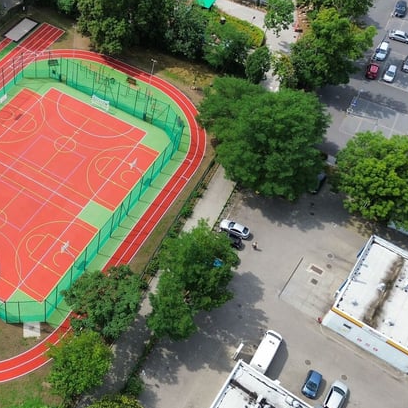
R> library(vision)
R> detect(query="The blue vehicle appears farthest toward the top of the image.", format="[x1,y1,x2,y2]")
[395,0,407,14]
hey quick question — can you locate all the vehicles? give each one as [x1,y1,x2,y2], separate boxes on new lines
[401,55,408,71]
[219,221,251,241]
[248,330,281,373]
[376,43,390,58]
[395,0,407,14]
[389,32,408,45]
[325,380,349,408]
[383,64,398,81]
[301,368,324,400]
[218,232,246,251]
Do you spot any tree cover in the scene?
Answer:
Yes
